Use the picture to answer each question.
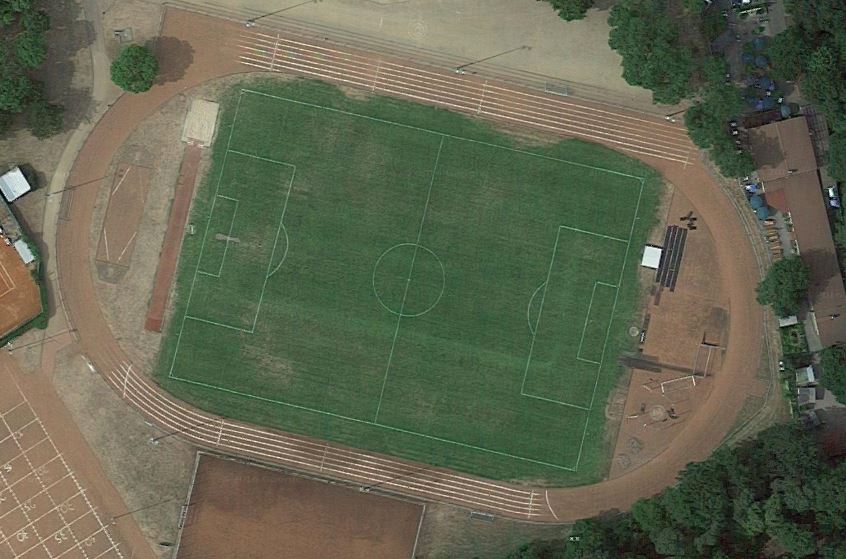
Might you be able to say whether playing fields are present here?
Yes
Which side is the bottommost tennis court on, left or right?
left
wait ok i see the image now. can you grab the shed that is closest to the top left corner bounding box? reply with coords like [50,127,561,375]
[0,167,30,201]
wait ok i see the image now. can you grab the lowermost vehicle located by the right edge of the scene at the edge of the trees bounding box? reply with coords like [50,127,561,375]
[826,186,839,208]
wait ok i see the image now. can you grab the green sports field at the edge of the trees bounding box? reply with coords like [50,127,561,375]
[154,77,663,489]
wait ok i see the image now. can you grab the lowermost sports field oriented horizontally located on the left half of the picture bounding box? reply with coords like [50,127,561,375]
[172,452,425,559]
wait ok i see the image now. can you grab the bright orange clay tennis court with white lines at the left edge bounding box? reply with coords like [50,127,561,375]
[0,236,40,337]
